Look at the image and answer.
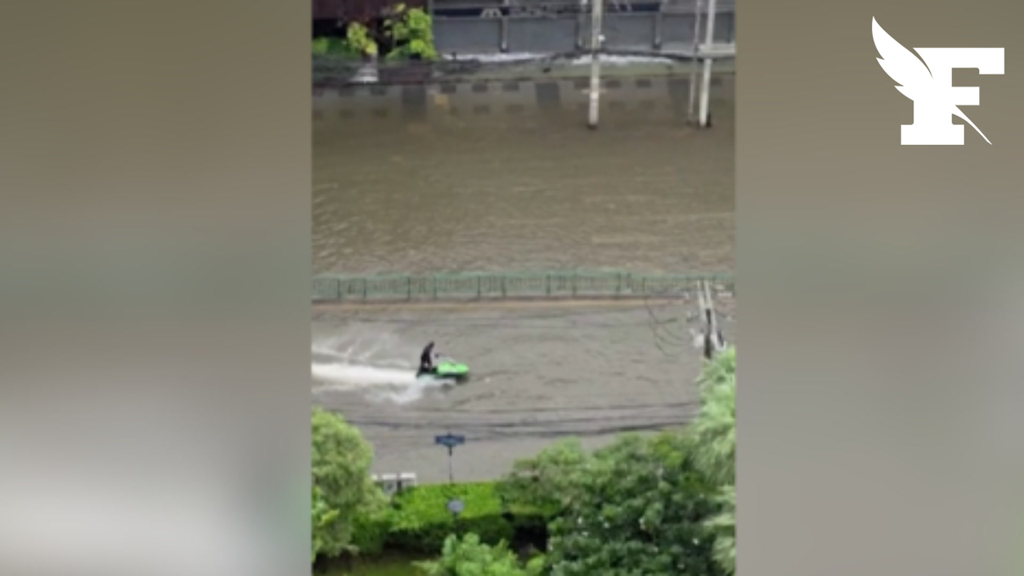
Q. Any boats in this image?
Yes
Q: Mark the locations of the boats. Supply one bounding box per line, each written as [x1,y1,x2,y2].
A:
[417,350,471,379]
